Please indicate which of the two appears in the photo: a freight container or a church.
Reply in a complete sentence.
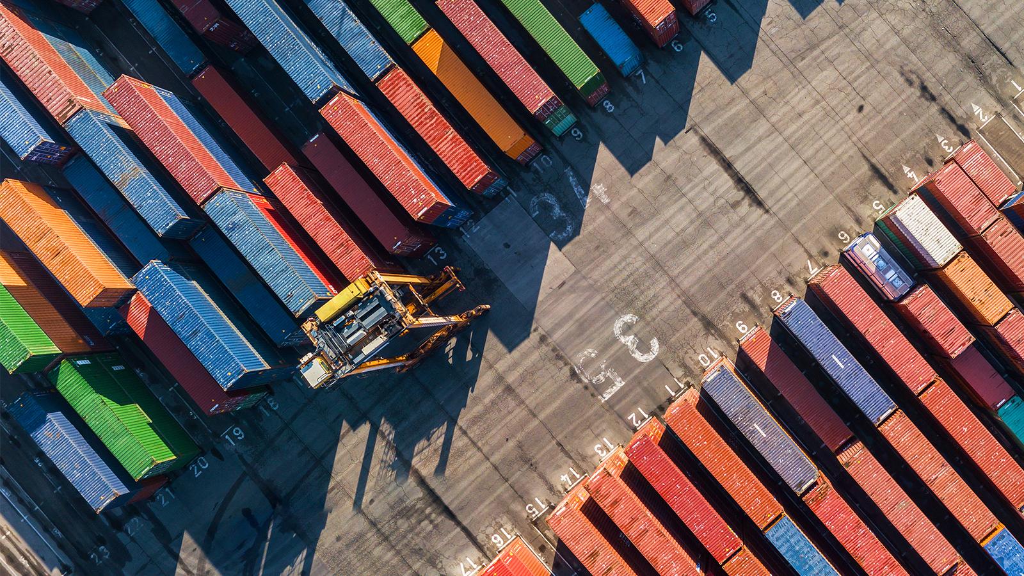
There is a freight container in the scene.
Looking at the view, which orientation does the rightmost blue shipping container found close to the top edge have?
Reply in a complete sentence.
The rightmost blue shipping container found close to the top edge has been laid out at an angle relative to the frame.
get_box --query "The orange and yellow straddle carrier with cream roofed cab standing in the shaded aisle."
[281,259,492,407]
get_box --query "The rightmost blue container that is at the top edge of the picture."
[580,1,646,77]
